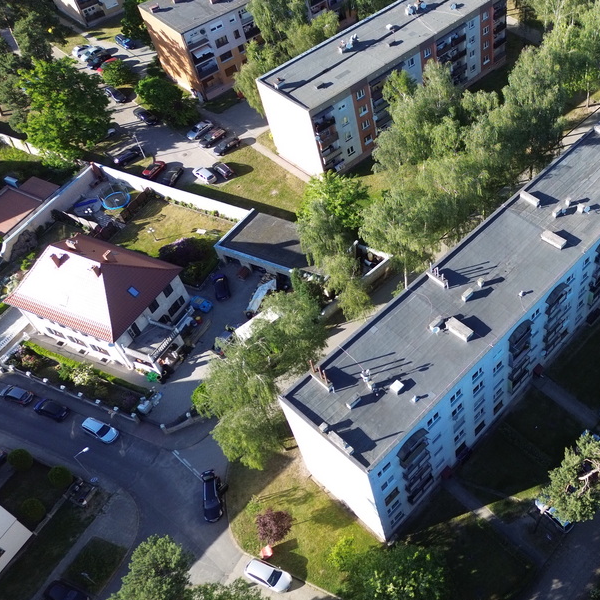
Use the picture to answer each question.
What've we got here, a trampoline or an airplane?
trampoline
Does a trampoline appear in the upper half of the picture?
Yes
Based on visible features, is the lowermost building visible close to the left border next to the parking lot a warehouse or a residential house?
residential house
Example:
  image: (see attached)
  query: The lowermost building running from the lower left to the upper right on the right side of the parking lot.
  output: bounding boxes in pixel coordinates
[277,119,600,540]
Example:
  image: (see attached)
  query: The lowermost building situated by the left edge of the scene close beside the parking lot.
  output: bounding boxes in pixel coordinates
[2,231,206,376]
